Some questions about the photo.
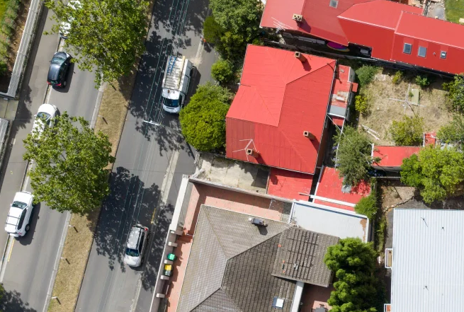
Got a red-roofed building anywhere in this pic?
Yes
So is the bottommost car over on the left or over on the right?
left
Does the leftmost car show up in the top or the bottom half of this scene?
bottom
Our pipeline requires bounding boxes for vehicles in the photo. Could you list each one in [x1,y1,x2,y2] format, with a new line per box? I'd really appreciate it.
[48,51,72,90]
[2,191,34,237]
[124,223,149,268]
[31,102,57,131]
[160,58,189,110]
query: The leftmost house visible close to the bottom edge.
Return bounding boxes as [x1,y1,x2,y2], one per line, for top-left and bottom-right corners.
[176,199,373,312]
